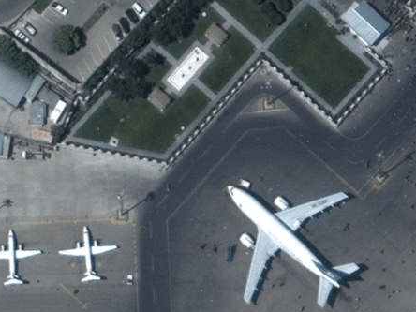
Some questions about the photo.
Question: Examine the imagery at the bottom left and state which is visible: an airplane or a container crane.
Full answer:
Visible at the bottom left is an airplane.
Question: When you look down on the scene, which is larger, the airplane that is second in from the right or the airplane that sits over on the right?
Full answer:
The airplane that is second in from the right is smaller than the airplane that sits over on the right.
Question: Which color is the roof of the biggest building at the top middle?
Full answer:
The color of the roof on the biggest building at the top middle is white.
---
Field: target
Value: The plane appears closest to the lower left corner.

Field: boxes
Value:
[0,227,41,281]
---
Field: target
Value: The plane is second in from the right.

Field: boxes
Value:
[58,225,116,279]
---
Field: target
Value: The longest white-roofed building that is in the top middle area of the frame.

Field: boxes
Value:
[167,46,209,92]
